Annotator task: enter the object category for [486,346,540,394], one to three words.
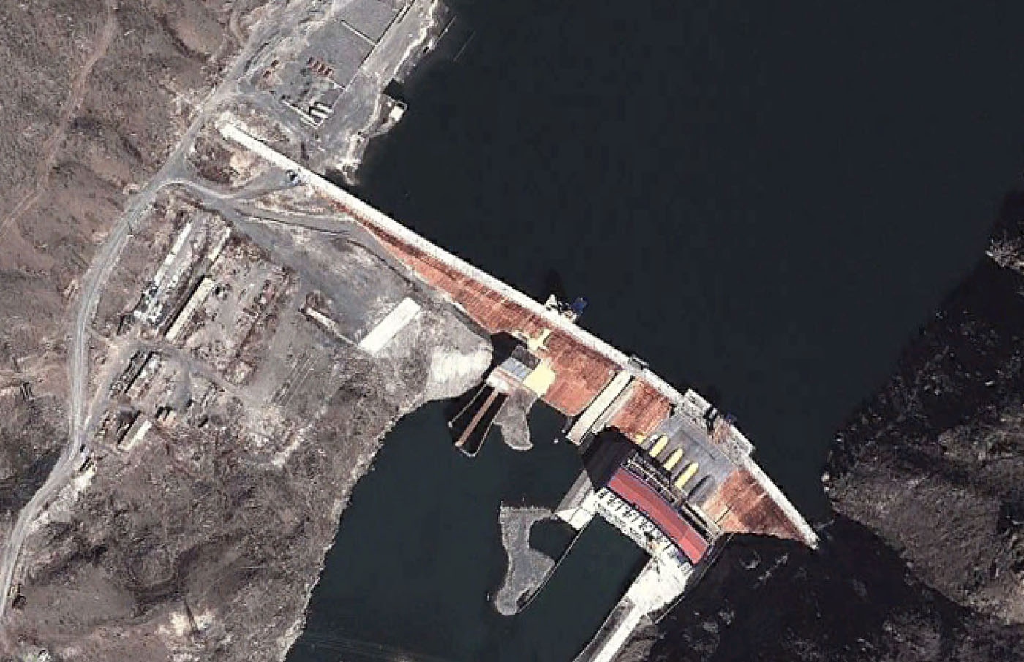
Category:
building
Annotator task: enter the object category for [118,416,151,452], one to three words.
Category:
shed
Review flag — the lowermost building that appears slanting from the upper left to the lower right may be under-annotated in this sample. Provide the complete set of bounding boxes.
[605,468,708,566]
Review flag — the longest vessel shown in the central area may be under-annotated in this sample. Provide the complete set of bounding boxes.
[573,296,588,315]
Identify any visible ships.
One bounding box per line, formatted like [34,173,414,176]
[727,412,738,422]
[573,296,588,315]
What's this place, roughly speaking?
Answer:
port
